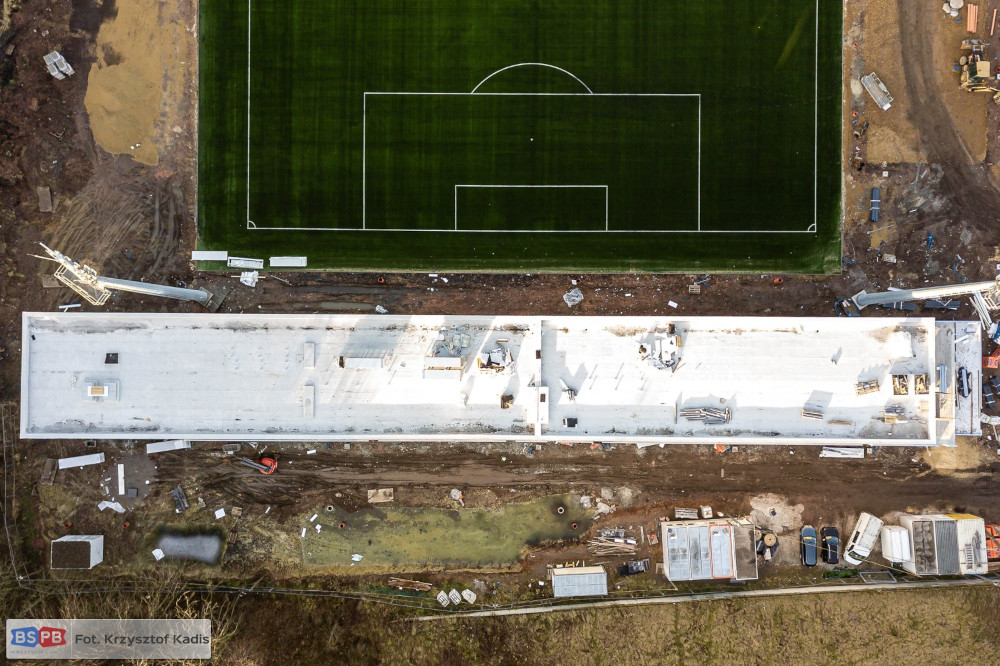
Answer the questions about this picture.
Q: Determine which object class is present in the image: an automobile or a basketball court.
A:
automobile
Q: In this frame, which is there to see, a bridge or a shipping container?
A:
shipping container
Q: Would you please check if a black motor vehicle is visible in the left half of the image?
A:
No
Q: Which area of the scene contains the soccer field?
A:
top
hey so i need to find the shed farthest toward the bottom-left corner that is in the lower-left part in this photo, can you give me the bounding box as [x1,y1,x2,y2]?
[52,534,104,570]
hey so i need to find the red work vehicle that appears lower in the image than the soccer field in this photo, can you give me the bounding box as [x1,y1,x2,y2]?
[237,451,279,475]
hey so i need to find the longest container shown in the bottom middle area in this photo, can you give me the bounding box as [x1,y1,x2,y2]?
[552,565,607,597]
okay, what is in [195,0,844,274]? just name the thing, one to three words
soccer field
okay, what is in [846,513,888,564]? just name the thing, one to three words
van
